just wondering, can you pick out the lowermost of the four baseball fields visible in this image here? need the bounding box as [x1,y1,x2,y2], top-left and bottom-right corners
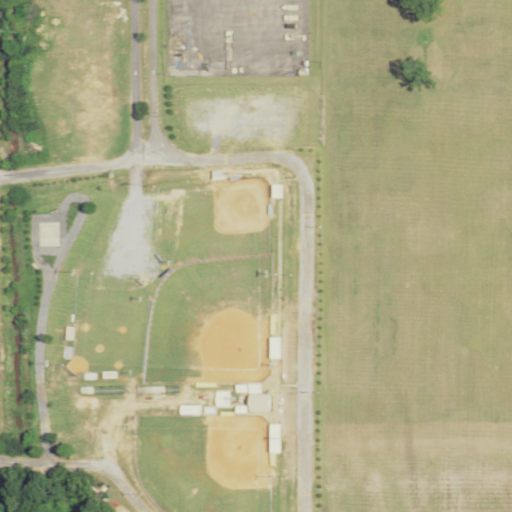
[132,416,270,512]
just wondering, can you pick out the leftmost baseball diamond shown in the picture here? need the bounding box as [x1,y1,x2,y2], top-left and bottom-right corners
[66,276,148,376]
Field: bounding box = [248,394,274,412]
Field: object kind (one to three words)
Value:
building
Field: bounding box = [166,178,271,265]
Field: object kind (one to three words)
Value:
baseball field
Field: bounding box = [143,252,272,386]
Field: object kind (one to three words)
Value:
baseball field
